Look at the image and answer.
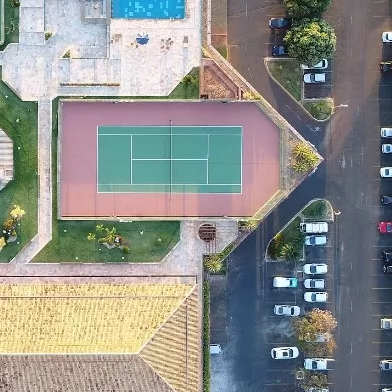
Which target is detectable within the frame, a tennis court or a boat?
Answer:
tennis court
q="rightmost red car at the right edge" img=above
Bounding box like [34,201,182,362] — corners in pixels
[378,221,392,234]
